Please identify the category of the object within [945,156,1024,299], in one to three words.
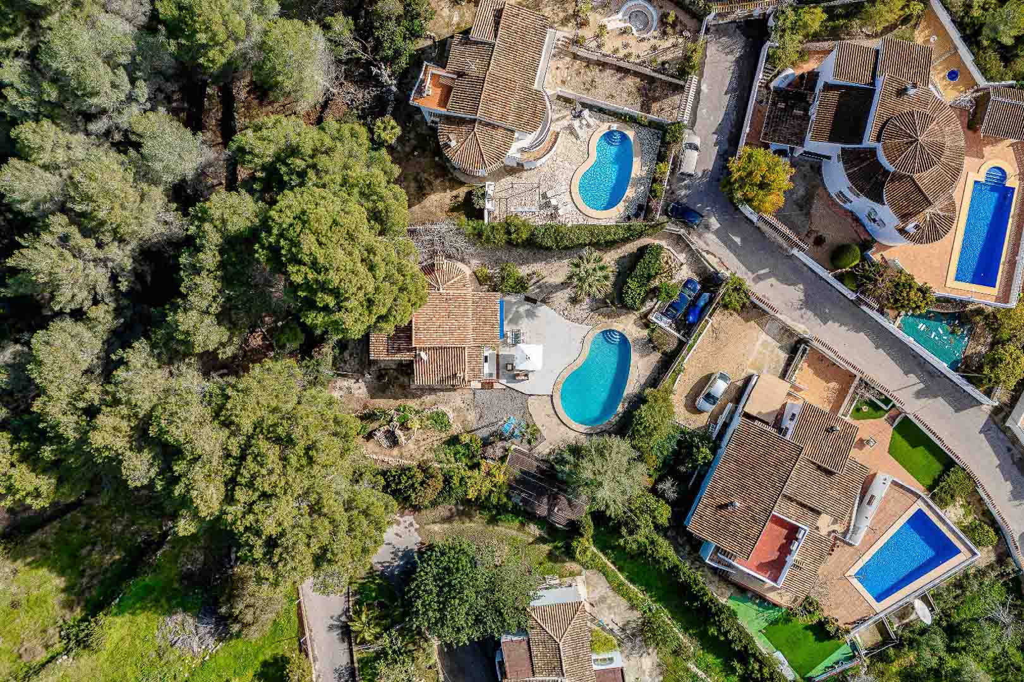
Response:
swimming pool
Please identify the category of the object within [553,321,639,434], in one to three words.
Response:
swimming pool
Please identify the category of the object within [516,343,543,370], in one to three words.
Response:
umbrella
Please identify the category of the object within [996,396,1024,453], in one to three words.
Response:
shed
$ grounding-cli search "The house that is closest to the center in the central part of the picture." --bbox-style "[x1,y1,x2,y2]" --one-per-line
[369,247,504,388]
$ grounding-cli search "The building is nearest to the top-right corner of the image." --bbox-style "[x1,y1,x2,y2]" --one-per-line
[967,84,1024,148]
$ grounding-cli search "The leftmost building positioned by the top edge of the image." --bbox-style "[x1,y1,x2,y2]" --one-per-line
[411,0,561,179]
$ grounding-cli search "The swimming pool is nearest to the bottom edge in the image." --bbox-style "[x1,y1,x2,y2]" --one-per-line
[844,498,973,614]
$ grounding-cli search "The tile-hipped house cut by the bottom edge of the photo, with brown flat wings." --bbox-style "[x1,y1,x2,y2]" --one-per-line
[501,572,625,682]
